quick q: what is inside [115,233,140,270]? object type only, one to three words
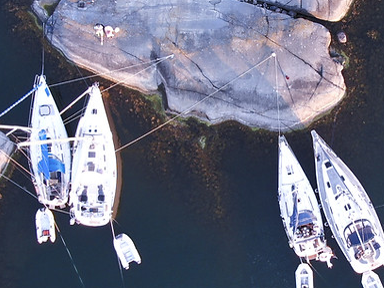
boat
